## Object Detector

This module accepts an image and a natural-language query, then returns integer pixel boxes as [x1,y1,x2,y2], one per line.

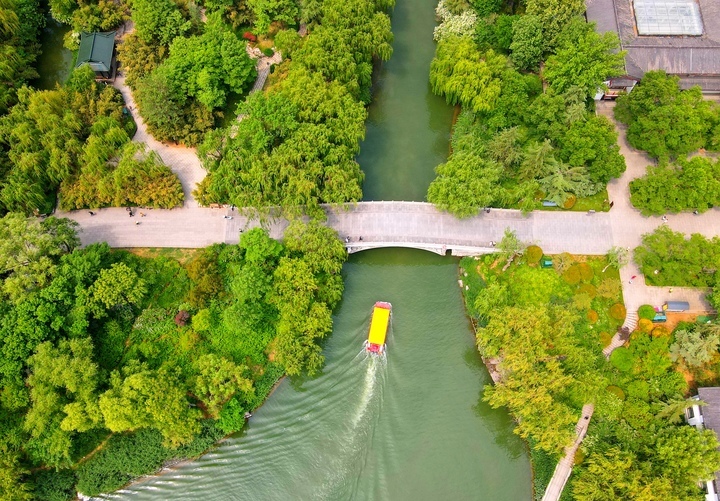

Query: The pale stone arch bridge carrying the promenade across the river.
[221,199,619,254]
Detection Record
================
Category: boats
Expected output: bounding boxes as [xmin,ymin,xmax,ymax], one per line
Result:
[367,301,390,353]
